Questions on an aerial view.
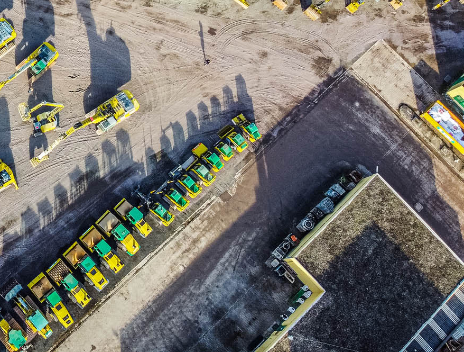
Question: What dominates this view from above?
paved ground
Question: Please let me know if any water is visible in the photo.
No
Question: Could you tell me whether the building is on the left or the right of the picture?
right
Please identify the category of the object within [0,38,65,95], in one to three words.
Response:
work vehicle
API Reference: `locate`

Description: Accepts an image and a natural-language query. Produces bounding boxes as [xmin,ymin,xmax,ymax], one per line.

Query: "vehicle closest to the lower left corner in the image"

[0,311,33,352]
